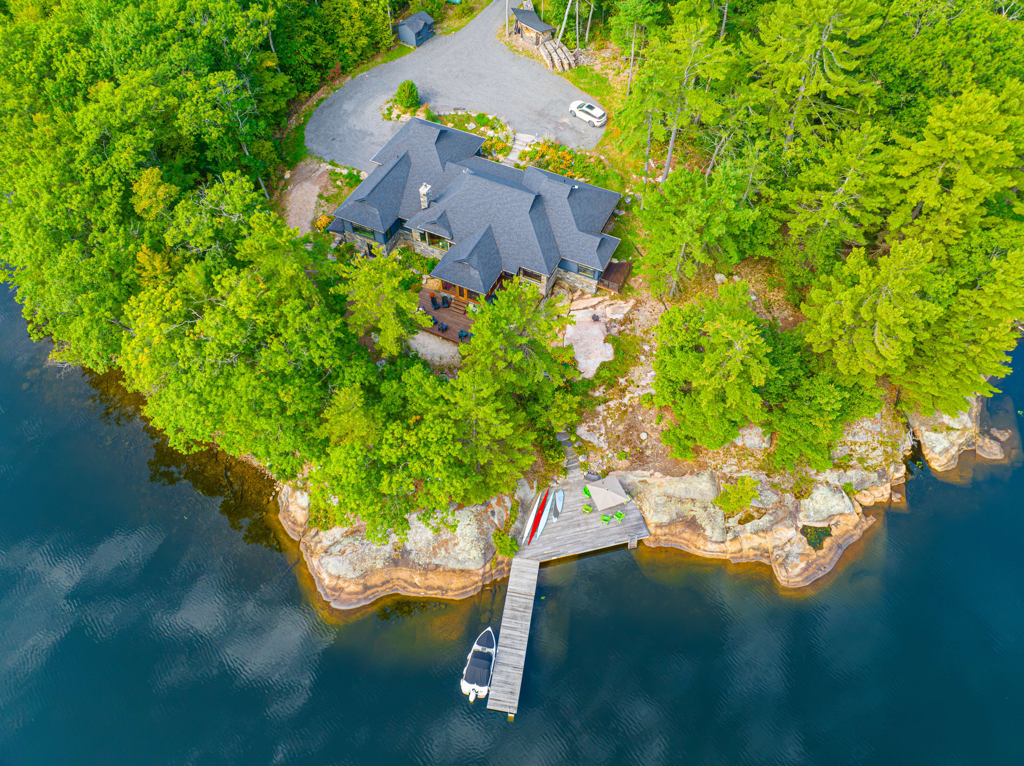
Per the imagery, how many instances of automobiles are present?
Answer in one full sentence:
My tally gives 1 automobile in this photo.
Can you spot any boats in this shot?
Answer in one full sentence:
Yes, there's a boat down there.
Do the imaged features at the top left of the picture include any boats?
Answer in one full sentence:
No, there's no boat to be seen at the top left of the picture.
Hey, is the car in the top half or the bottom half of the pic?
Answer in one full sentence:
Seen from above, the car lies in the top half of the view.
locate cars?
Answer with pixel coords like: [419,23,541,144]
[570,100,609,124]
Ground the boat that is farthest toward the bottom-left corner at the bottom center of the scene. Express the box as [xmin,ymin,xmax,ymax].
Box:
[460,628,497,707]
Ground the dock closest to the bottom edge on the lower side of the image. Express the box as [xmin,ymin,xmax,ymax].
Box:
[487,590,535,715]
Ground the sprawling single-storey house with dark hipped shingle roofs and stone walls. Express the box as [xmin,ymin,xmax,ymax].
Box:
[324,117,624,313]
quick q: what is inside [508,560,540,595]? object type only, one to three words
pier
